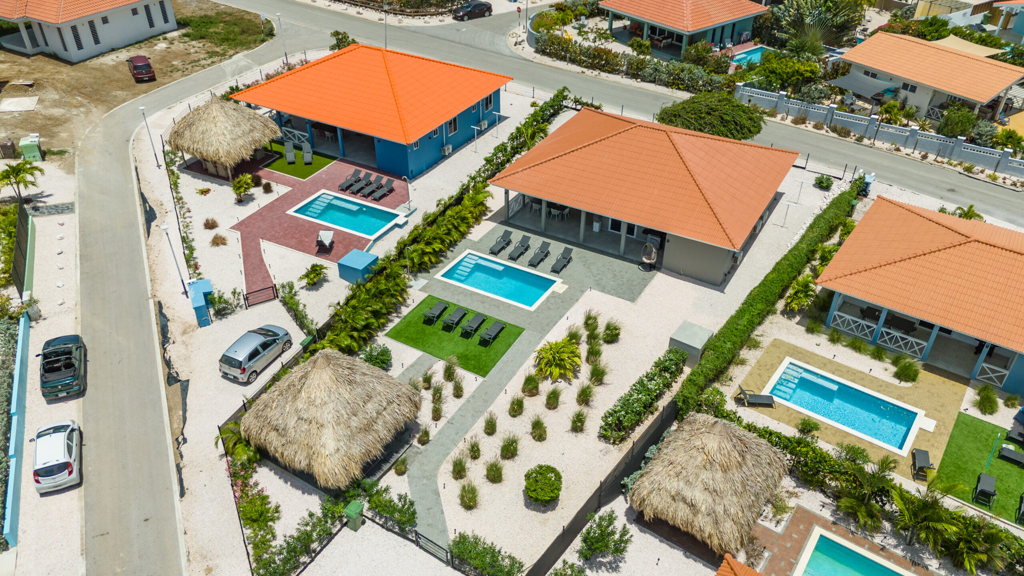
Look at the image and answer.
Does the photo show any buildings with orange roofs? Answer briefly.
Yes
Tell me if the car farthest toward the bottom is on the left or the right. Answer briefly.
left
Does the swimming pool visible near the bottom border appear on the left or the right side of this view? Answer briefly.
right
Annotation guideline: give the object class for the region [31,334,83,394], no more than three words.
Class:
car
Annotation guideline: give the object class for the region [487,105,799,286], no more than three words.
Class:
house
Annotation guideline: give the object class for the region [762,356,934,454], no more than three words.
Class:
swimming pool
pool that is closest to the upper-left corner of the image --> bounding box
[286,189,413,246]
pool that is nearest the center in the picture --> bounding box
[435,249,561,311]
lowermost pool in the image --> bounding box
[785,524,912,576]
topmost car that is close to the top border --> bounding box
[453,1,492,19]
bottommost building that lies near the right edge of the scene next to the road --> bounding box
[814,194,1024,401]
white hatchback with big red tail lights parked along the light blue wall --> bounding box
[25,420,80,486]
